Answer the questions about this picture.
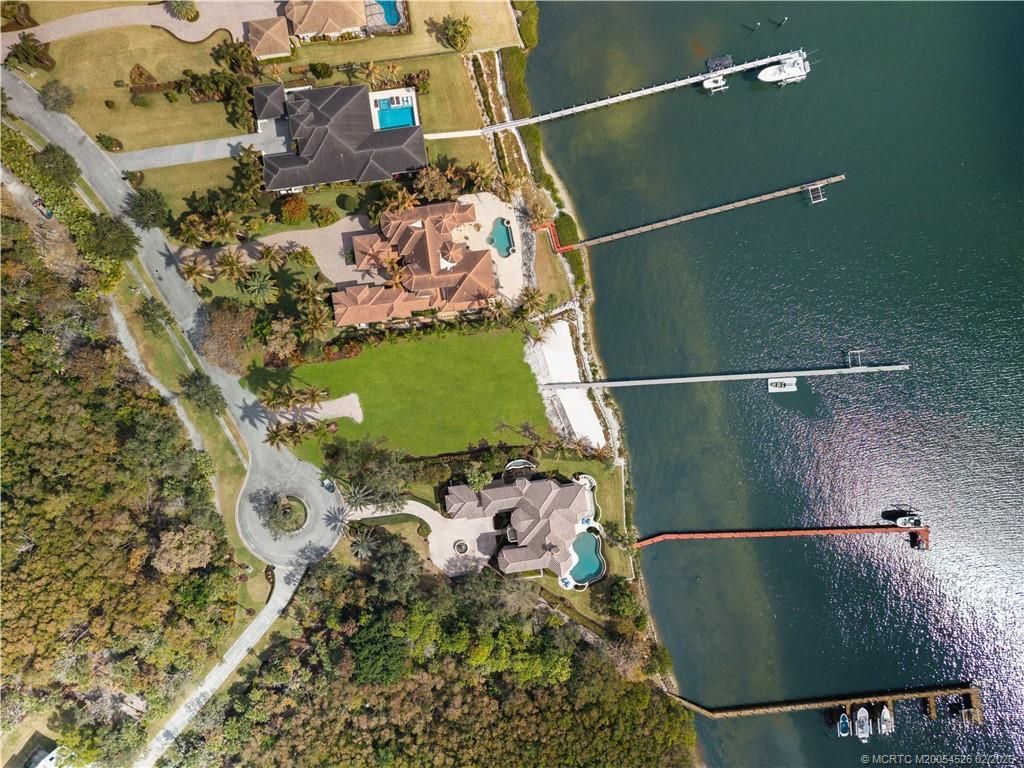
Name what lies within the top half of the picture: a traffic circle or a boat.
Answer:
boat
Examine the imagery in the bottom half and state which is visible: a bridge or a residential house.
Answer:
residential house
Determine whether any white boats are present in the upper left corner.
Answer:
No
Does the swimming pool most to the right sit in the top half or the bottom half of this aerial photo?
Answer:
bottom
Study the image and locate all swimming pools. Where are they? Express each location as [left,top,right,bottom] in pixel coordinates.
[484,211,517,260]
[504,459,537,473]
[556,473,608,593]
[367,0,405,30]
[369,87,420,131]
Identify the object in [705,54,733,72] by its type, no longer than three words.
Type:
pier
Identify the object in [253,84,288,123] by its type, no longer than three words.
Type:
house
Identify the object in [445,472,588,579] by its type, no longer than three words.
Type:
house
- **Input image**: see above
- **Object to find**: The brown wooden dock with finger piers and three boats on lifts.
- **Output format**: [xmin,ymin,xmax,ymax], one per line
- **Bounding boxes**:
[662,681,985,723]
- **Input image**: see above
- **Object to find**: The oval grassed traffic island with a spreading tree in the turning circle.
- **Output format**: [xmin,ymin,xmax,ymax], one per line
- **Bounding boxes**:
[260,494,308,536]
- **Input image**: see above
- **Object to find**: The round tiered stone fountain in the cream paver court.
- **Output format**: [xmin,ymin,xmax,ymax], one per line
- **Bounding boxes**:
[451,538,470,557]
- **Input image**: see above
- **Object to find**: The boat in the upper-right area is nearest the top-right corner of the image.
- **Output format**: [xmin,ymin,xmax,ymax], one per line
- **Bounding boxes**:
[758,55,811,80]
